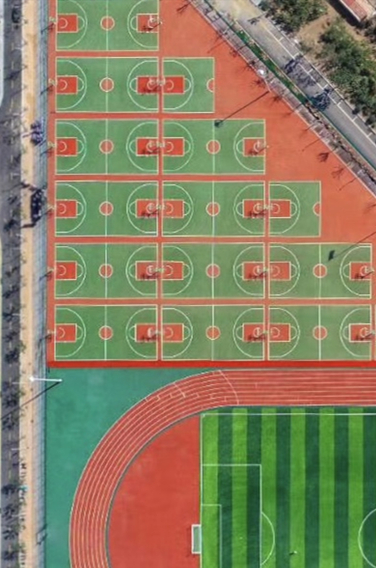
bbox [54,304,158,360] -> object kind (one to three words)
basketball court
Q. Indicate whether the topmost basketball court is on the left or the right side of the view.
left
